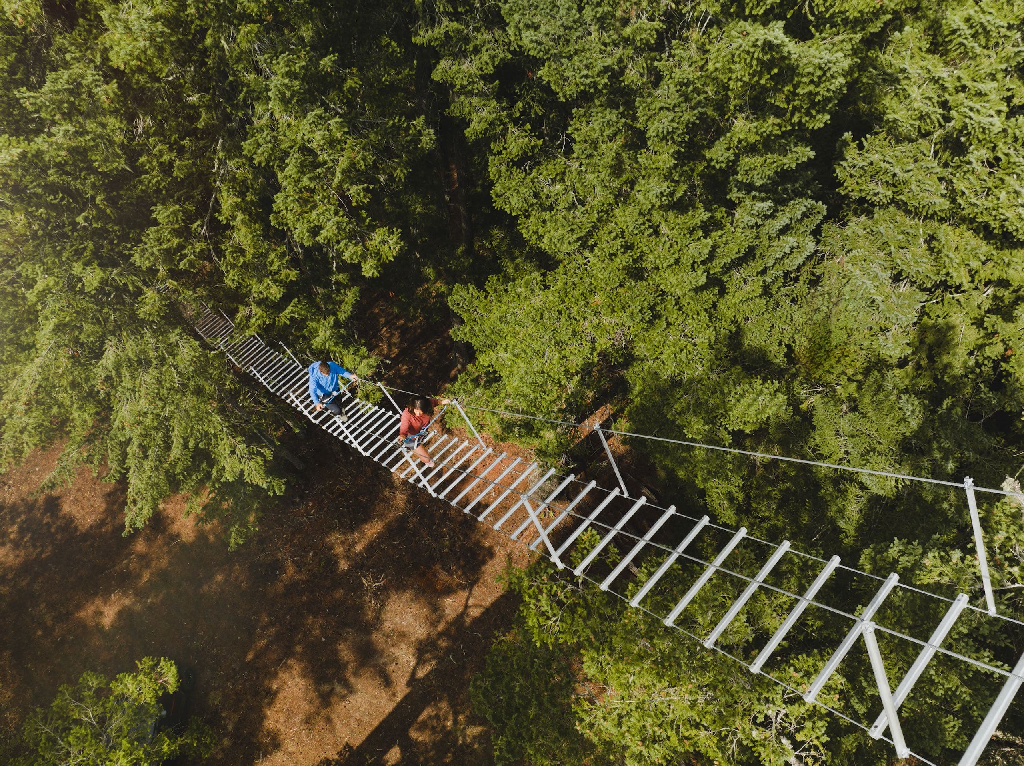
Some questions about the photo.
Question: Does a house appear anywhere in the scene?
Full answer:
No, the frame has no house in it.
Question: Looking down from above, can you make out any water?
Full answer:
No, the picture contains no water.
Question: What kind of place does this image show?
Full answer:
This image shows a forest.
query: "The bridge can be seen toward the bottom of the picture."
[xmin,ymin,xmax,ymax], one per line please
[175,292,1024,766]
